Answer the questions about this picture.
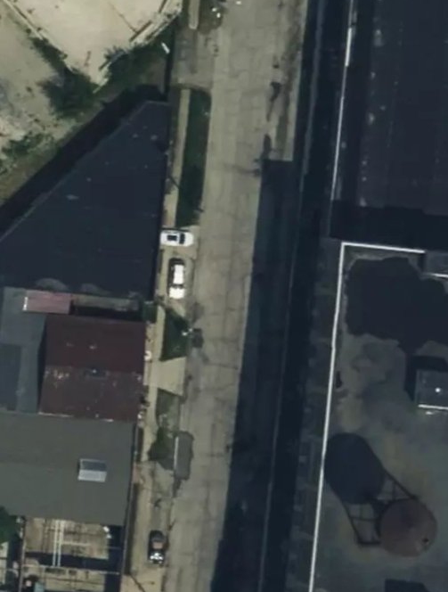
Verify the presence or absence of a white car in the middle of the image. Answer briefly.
Yes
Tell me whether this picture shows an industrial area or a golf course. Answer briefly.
industrial area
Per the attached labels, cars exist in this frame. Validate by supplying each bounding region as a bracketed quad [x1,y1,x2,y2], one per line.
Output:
[160,231,196,248]
[167,260,186,299]
[149,530,167,566]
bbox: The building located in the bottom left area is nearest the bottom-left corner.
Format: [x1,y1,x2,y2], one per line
[0,410,137,527]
